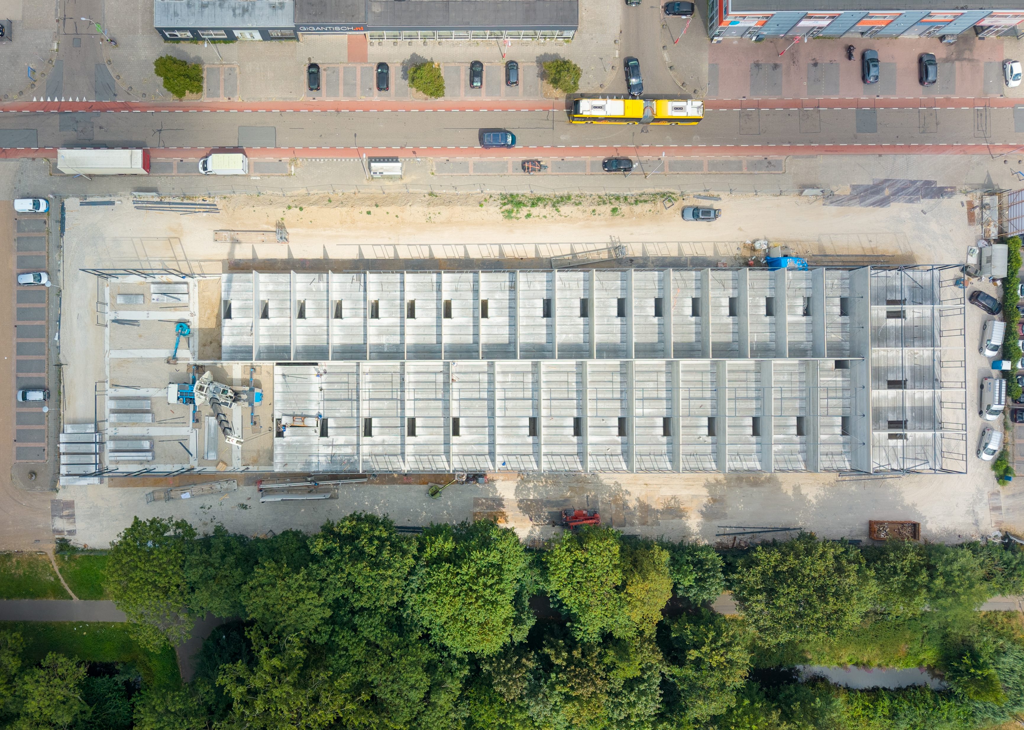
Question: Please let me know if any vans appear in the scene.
Yes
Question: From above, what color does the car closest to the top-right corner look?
white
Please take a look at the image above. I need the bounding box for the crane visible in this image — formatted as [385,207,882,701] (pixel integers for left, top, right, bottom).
[168,365,301,446]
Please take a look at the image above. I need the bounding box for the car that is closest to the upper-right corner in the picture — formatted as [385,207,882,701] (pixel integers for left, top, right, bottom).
[1002,60,1023,88]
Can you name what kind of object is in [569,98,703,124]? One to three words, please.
bus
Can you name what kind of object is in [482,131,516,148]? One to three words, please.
vehicle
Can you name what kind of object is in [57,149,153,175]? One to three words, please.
trailer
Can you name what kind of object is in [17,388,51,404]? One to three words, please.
car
